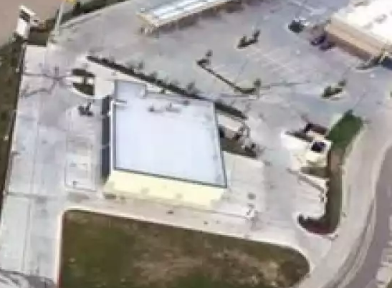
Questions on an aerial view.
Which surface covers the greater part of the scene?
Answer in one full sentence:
The bulk of the photo consists of paved ground.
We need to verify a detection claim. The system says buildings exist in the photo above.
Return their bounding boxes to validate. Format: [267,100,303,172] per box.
[320,7,392,67]
[100,84,222,210]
